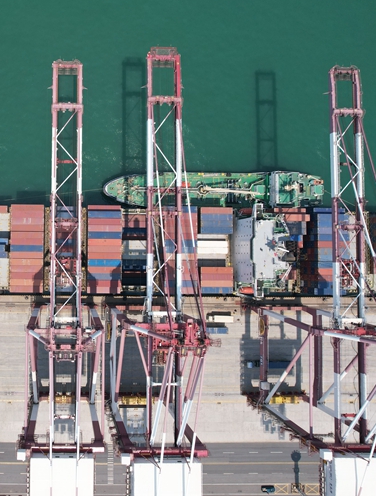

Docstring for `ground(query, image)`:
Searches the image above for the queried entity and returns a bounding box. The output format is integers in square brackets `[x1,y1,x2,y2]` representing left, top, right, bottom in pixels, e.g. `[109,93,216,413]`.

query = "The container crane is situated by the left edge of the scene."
[16,58,113,496]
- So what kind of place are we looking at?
port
